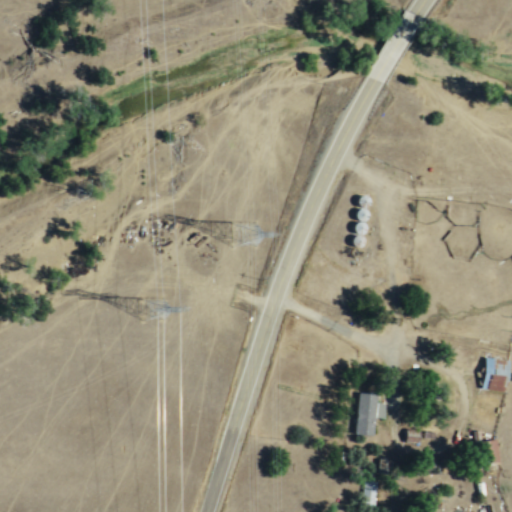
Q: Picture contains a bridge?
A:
Yes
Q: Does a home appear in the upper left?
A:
No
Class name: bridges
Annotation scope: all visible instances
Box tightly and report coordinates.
[366,14,428,82]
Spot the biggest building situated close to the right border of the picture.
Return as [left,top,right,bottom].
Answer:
[480,358,510,392]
